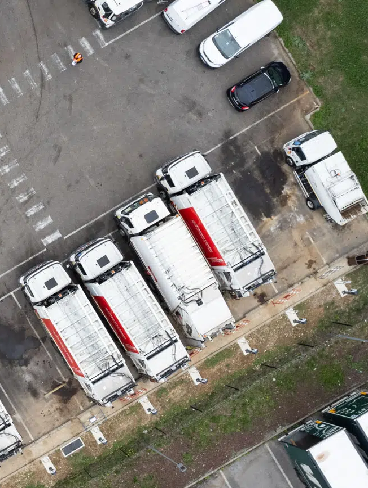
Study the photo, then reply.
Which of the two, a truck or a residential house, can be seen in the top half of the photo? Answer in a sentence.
The one visible in the top half of the photo is a truck.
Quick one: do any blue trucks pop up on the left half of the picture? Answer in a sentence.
No, I see no blue truck on the left half of the picture.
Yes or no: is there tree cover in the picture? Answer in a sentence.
No, the picture contains no tree cover.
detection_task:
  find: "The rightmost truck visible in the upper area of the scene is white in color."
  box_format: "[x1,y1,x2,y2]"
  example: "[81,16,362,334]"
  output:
[277,121,368,230]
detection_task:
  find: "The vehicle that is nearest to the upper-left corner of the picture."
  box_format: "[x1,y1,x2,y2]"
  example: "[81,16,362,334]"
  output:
[90,0,148,35]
